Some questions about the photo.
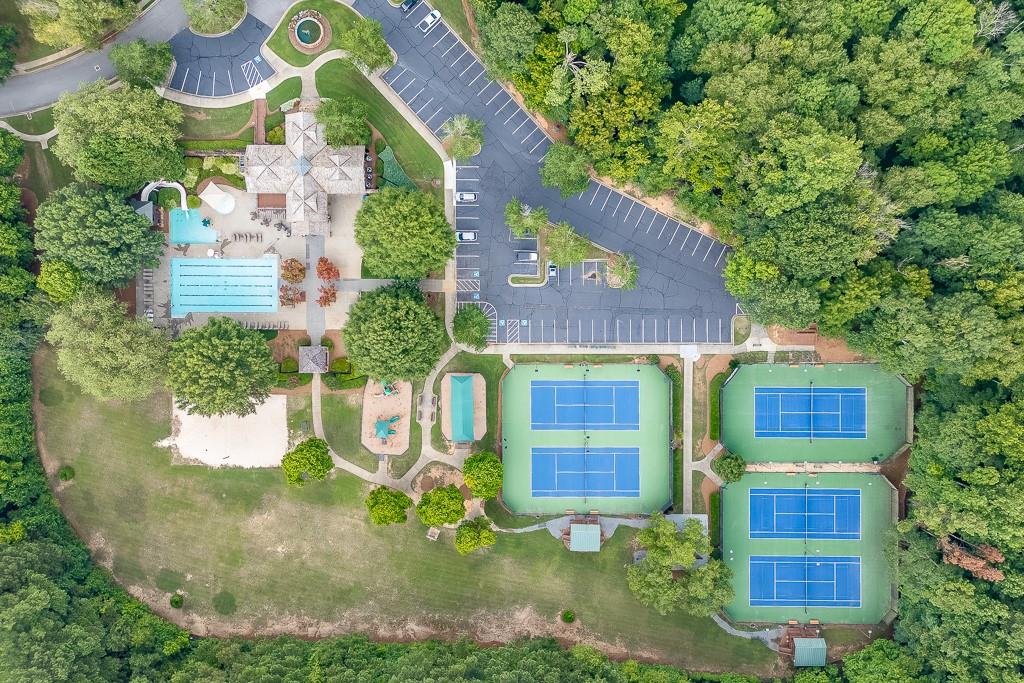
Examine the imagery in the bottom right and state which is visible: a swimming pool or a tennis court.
tennis court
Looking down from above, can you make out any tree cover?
Yes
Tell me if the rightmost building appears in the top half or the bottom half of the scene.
bottom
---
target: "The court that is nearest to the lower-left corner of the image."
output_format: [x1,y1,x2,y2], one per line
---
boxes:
[157,391,289,467]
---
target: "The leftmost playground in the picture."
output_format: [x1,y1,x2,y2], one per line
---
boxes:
[361,377,413,456]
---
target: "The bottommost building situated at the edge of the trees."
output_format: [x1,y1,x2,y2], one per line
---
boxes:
[788,632,827,666]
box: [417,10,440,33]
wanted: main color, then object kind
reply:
white truck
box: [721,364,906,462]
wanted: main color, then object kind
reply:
green tennis court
